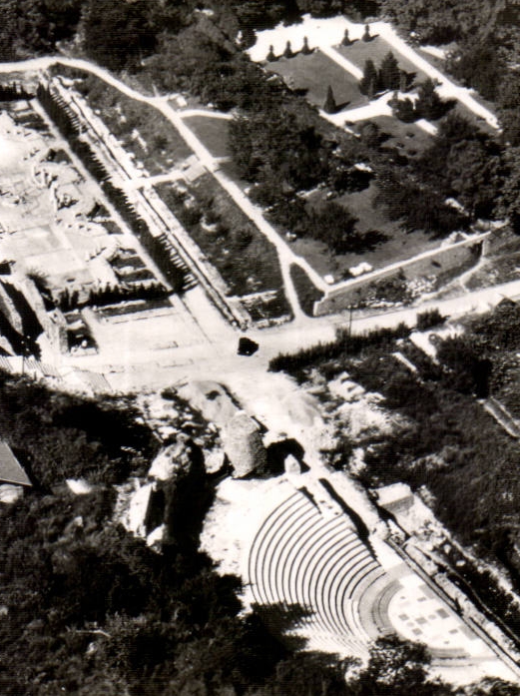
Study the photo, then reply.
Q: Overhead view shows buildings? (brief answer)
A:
Yes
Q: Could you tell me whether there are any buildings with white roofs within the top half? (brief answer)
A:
No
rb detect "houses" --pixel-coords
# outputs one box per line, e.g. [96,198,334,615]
[373,485,414,520]
[0,441,32,506]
